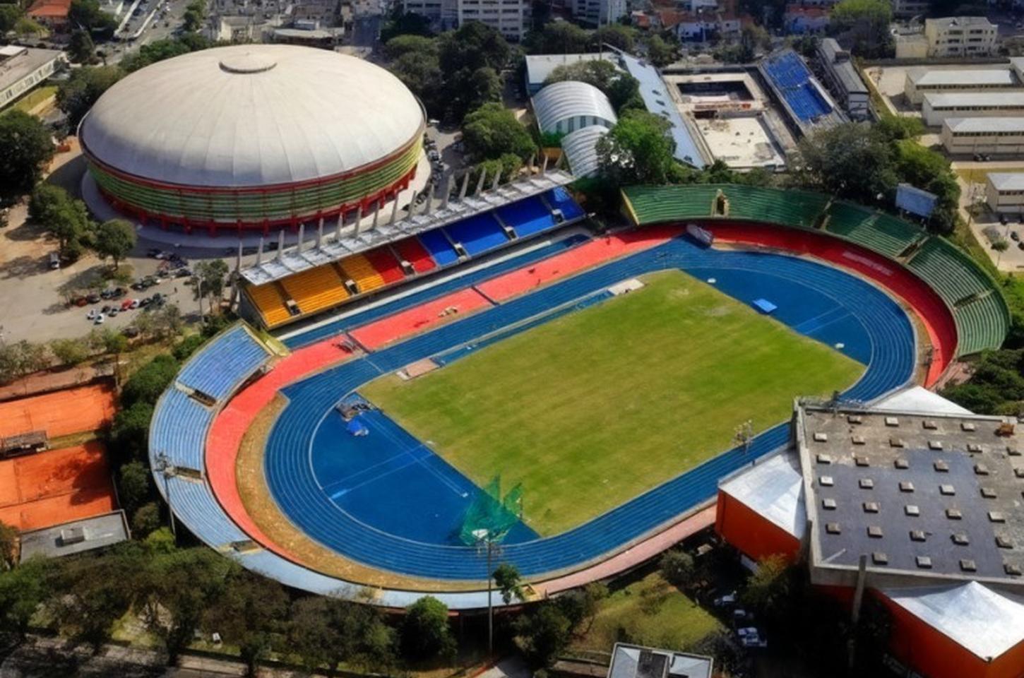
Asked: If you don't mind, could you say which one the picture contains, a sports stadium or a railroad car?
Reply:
sports stadium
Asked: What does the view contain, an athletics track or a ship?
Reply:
athletics track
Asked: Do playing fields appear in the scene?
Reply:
Yes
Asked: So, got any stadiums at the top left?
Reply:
Yes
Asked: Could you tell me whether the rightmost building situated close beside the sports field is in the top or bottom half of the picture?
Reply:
bottom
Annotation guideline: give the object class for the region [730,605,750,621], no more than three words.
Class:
car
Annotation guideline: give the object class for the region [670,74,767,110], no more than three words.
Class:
swimming pool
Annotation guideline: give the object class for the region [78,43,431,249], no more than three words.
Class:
stadium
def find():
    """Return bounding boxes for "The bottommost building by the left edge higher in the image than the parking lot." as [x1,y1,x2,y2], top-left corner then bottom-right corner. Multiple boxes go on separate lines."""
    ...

[0,42,64,108]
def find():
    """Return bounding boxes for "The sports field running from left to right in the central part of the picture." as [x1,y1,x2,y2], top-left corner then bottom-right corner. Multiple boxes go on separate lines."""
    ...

[357,267,865,536]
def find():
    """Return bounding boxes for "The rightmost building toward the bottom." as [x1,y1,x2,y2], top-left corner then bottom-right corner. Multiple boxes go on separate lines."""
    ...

[717,388,1024,678]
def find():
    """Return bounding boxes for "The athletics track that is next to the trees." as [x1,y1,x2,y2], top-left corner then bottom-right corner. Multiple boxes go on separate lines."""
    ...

[264,248,914,579]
